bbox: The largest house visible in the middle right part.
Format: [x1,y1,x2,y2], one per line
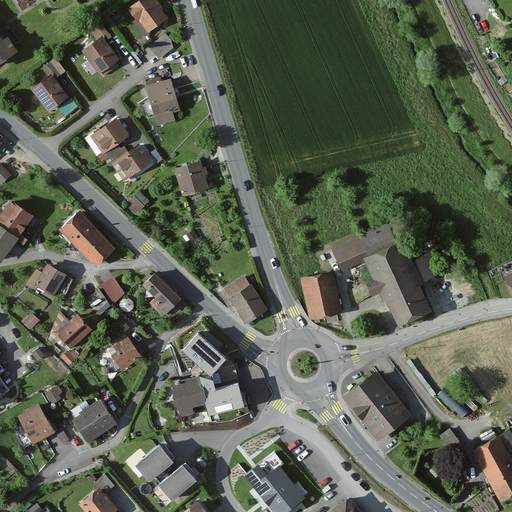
[365,246,439,330]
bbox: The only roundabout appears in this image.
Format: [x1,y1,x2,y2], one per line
[266,326,342,402]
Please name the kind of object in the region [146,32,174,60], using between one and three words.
building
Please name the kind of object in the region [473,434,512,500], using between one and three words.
house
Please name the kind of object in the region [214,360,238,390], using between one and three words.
building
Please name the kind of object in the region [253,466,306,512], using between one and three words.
house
